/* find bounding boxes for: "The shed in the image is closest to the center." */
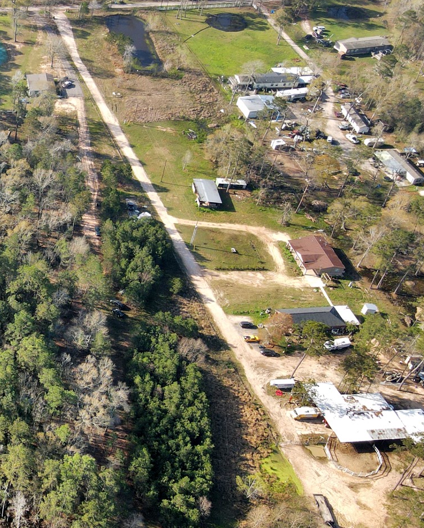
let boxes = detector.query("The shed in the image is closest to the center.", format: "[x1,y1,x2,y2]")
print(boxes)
[191,179,222,208]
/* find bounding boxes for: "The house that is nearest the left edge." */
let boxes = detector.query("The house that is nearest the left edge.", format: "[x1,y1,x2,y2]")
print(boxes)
[27,73,55,98]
